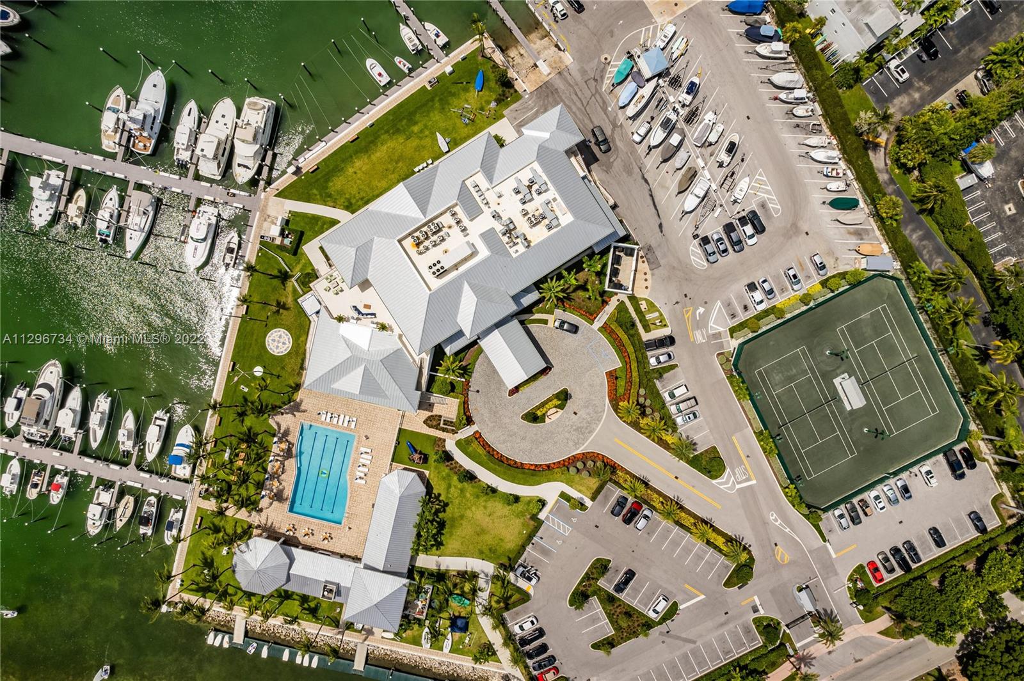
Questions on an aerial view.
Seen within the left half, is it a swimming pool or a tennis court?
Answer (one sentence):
You can see a swimming pool within the left half.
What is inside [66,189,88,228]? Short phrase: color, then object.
white boat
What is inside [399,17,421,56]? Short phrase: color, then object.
white boat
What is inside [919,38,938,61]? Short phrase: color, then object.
black car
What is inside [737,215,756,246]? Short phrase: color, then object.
white vehicle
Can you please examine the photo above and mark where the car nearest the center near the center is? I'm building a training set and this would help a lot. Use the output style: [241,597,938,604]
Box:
[554,320,580,335]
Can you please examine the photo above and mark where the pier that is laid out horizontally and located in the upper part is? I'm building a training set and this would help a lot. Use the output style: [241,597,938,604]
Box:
[0,130,259,210]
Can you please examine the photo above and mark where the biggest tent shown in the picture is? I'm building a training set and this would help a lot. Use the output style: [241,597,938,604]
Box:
[634,44,670,81]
